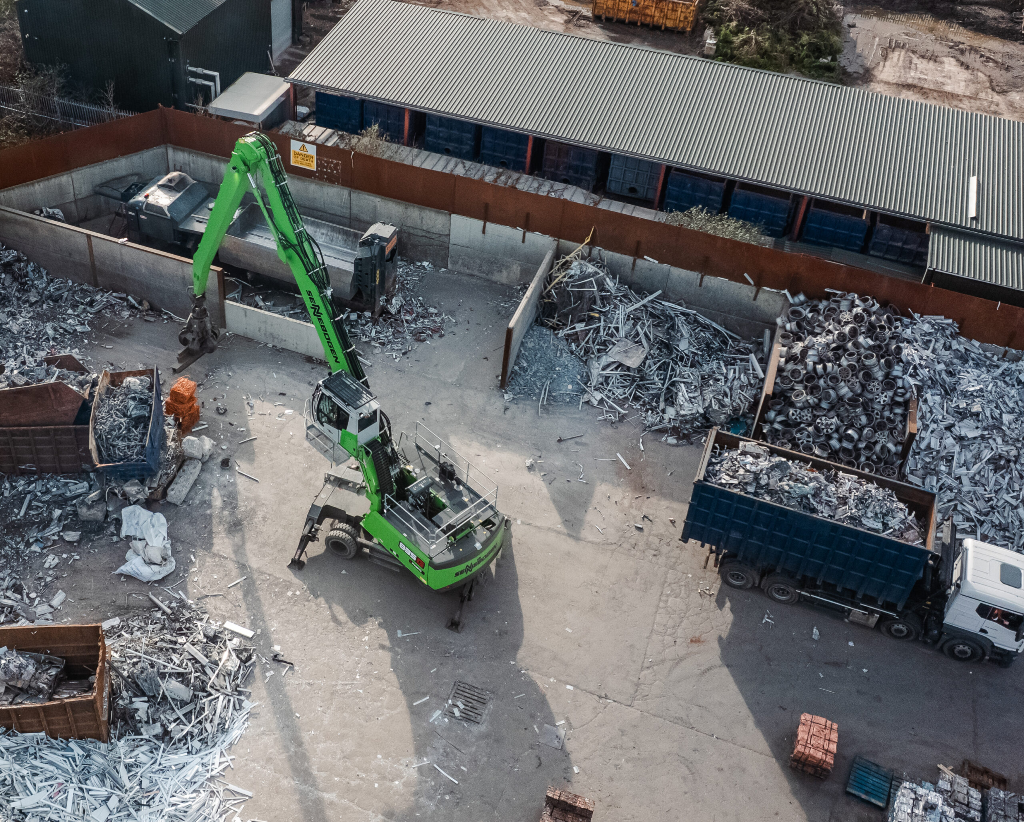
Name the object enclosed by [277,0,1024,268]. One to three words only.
shed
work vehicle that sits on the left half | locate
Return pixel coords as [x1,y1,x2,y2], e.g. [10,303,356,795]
[188,126,520,646]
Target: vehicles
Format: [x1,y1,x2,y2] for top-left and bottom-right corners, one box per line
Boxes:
[686,523,1024,672]
[188,126,520,646]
